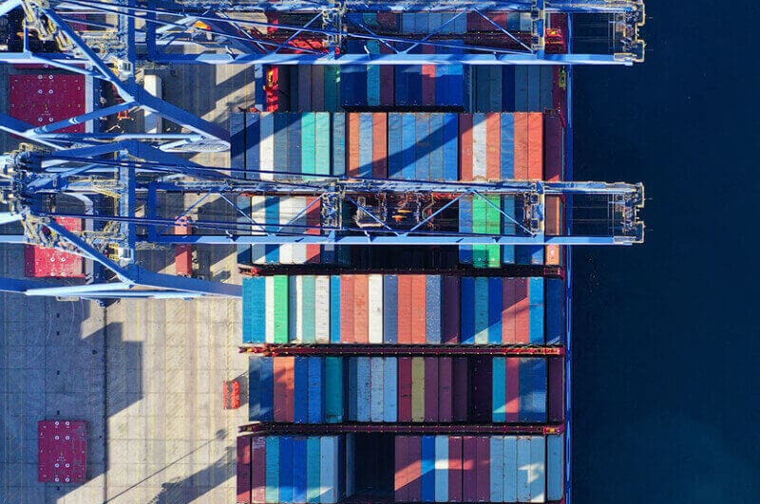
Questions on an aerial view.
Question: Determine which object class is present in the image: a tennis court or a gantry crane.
gantry crane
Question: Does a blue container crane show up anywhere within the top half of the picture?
Yes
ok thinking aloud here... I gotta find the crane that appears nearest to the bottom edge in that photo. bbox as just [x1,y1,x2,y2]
[0,139,652,310]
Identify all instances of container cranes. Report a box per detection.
[0,0,649,169]
[0,139,652,310]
